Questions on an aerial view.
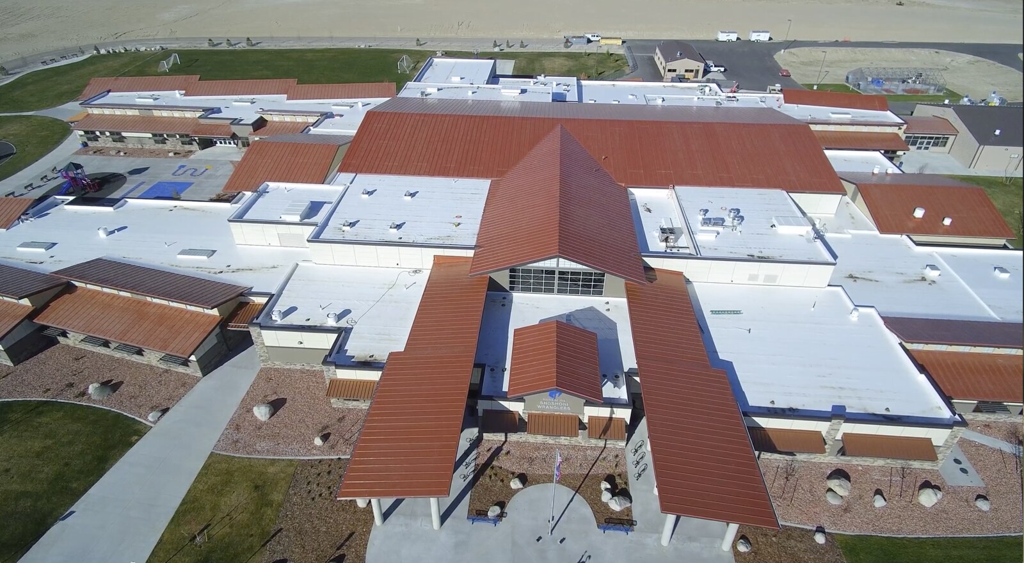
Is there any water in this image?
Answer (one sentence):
No, the picture contains no water.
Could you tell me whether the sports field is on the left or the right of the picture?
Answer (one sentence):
You can find the sports field on the left side of the picture.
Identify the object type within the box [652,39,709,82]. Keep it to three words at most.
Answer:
building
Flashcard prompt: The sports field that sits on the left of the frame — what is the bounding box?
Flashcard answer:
[0,49,628,113]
